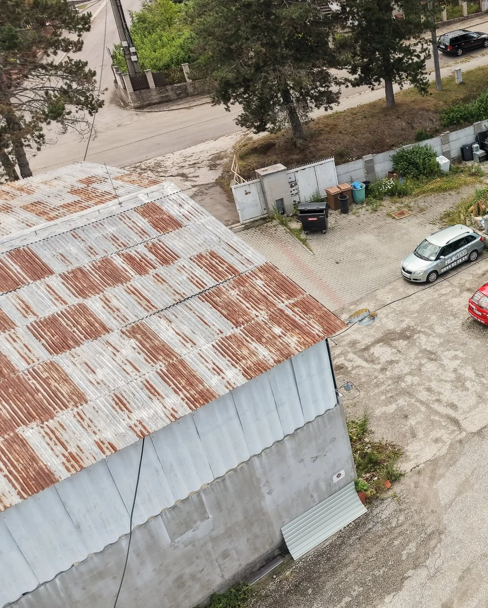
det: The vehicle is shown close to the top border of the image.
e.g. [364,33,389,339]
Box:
[437,27,488,55]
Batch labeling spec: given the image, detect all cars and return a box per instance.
[398,222,487,282]
[464,280,488,326]
[437,27,488,55]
